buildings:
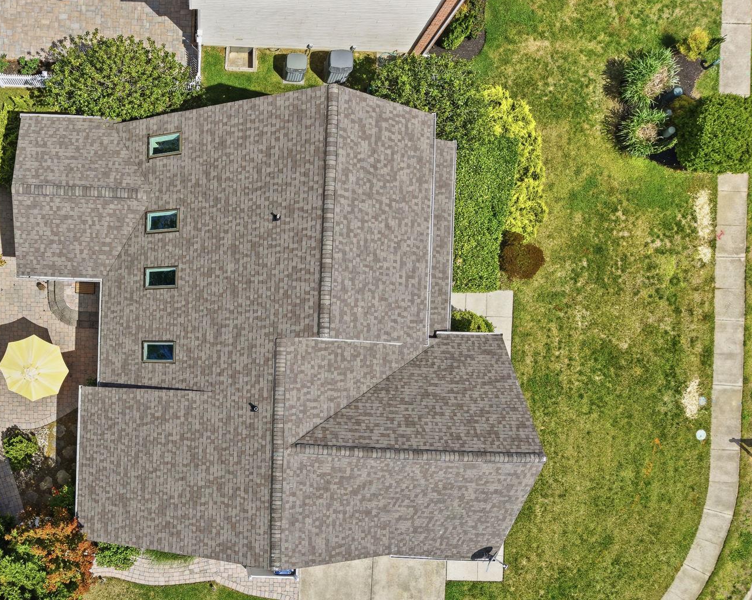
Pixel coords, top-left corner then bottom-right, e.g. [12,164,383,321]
[187,0,474,56]
[12,85,545,587]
